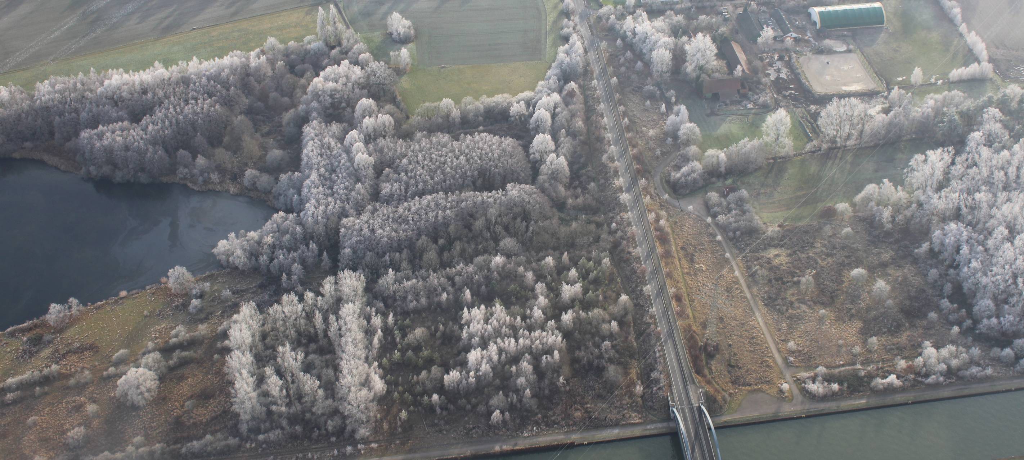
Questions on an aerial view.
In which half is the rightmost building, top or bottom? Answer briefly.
top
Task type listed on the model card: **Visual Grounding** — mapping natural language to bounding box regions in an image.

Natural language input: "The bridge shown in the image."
[667,389,724,460]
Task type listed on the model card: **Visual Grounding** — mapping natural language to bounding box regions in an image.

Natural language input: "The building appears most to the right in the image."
[809,2,885,29]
